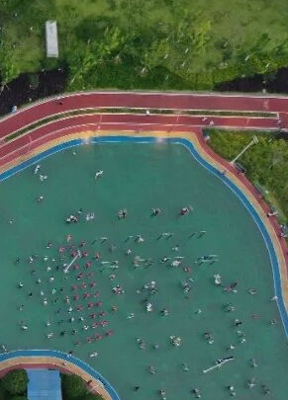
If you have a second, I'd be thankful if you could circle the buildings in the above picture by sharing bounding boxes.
[23,370,62,400]
[42,22,58,66]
